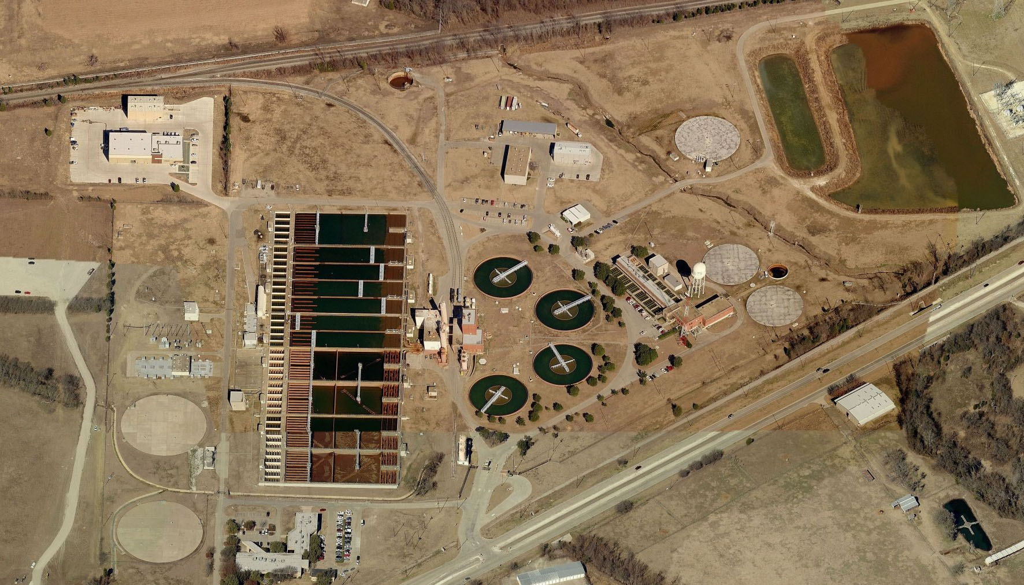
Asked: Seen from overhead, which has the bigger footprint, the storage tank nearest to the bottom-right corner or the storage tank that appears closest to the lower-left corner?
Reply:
the storage tank that appears closest to the lower-left corner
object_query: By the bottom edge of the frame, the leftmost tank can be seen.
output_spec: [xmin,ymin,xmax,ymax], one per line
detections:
[117,501,203,564]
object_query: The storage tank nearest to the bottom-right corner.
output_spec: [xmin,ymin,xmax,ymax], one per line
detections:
[747,286,803,327]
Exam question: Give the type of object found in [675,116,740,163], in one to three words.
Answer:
storage tank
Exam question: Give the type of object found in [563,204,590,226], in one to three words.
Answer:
building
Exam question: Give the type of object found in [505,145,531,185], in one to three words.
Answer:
building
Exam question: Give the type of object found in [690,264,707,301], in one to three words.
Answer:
water tower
